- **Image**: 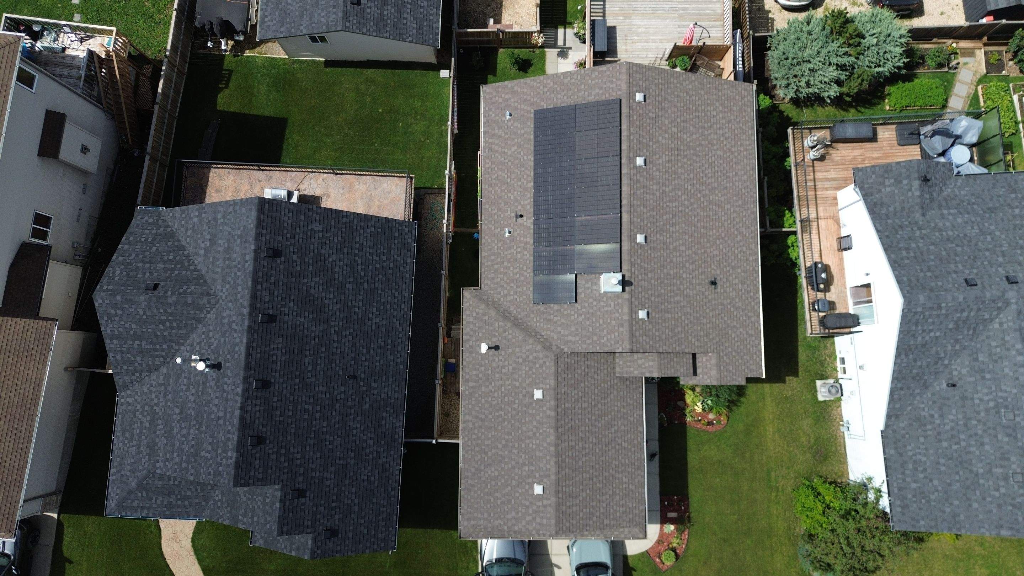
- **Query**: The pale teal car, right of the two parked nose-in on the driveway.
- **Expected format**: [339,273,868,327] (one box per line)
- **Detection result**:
[564,541,621,576]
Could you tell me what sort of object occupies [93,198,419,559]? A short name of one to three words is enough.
house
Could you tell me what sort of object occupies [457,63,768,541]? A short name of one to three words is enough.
house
